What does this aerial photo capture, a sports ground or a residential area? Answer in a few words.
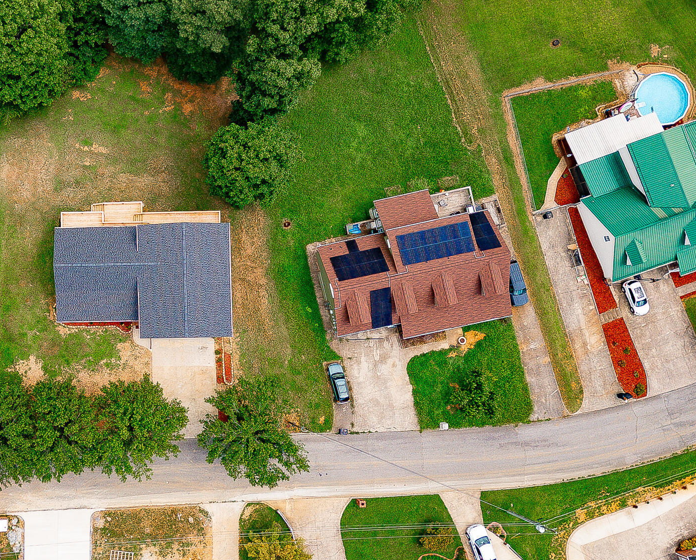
residential area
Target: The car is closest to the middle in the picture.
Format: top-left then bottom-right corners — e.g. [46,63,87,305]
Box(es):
[327,361,352,406]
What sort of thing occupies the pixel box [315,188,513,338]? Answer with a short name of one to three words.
house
